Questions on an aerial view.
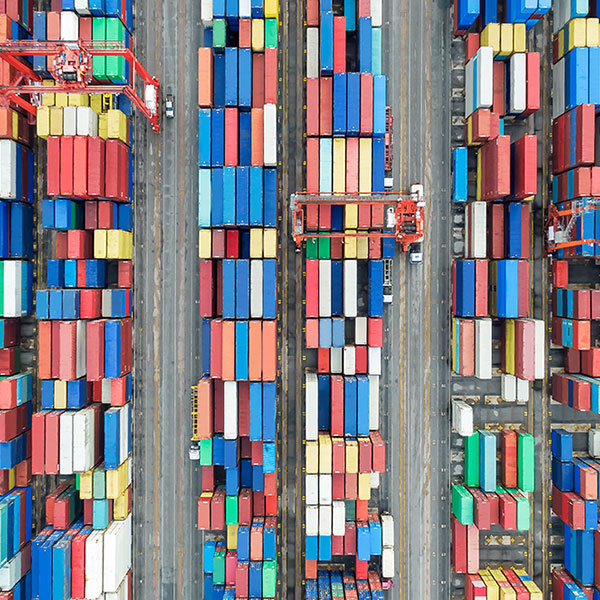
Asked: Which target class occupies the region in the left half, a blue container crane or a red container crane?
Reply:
red container crane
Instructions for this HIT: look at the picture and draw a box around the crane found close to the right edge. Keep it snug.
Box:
[543,193,600,257]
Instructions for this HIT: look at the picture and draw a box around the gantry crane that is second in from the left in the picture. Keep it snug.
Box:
[290,189,432,253]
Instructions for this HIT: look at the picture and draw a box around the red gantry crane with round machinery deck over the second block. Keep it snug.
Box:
[0,39,161,130]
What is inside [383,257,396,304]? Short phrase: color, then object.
white vehicle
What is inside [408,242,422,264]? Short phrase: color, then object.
white vehicle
